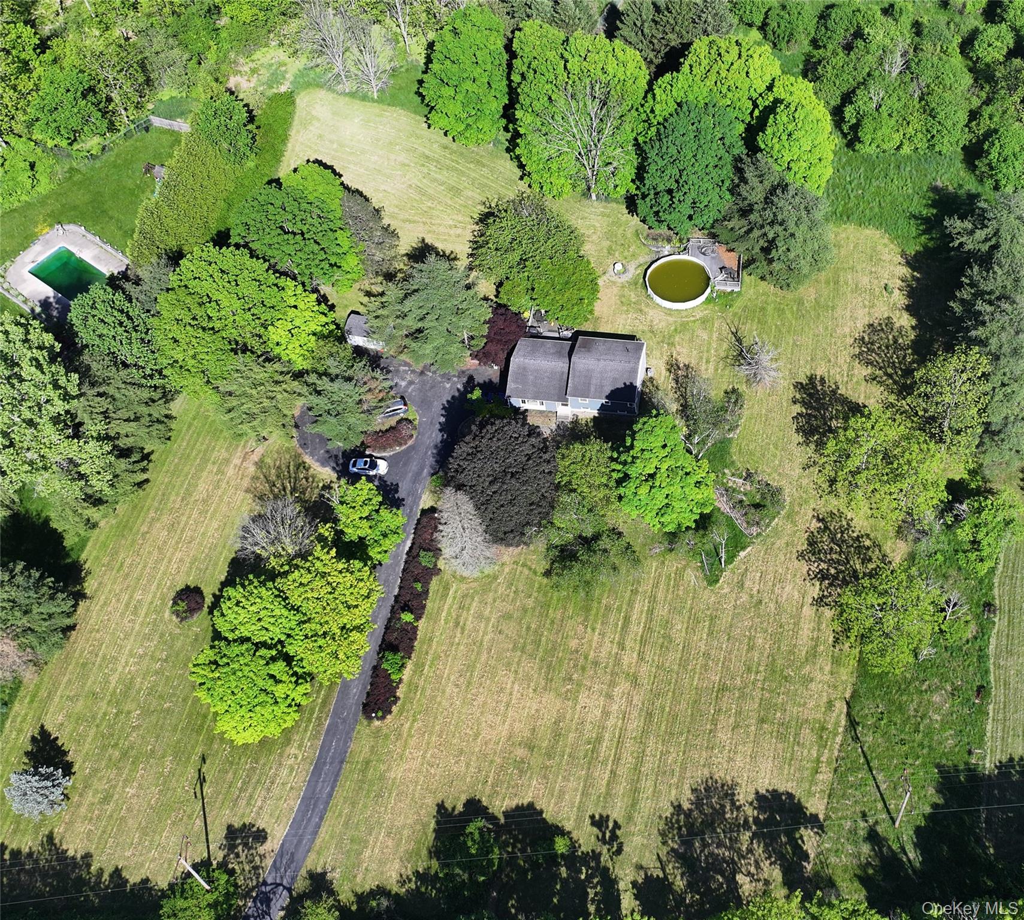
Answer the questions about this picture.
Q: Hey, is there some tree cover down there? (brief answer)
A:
Yes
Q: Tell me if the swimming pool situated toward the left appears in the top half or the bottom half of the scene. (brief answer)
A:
top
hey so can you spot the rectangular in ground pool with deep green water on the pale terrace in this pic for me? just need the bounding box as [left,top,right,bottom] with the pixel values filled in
[23,242,109,304]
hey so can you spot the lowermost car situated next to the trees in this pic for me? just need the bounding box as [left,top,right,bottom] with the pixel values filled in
[347,459,390,478]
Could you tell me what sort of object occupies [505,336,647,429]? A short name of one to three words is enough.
house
